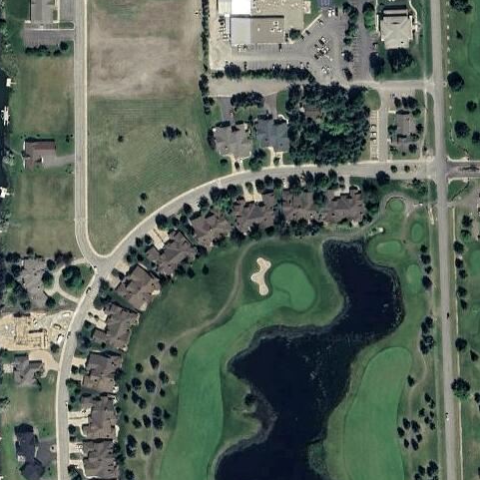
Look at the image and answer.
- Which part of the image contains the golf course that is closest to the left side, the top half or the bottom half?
bottom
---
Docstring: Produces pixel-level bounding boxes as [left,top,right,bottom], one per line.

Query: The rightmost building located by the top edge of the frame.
[381,8,412,50]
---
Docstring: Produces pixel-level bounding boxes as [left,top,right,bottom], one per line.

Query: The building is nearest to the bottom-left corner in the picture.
[13,424,46,480]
